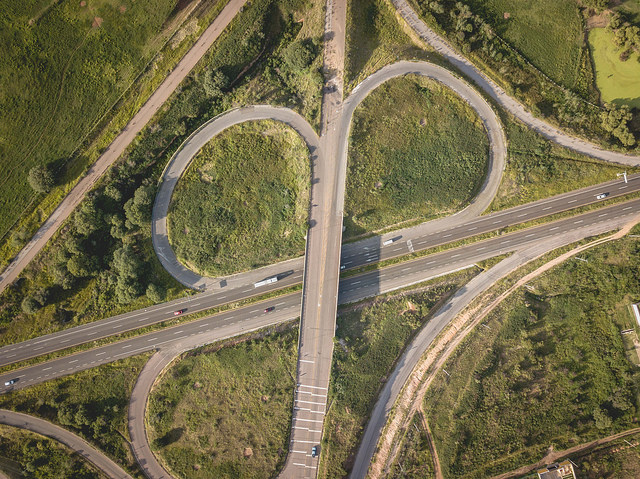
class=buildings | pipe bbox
[629,300,640,326]
[536,458,576,479]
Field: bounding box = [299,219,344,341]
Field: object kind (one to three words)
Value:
bridge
